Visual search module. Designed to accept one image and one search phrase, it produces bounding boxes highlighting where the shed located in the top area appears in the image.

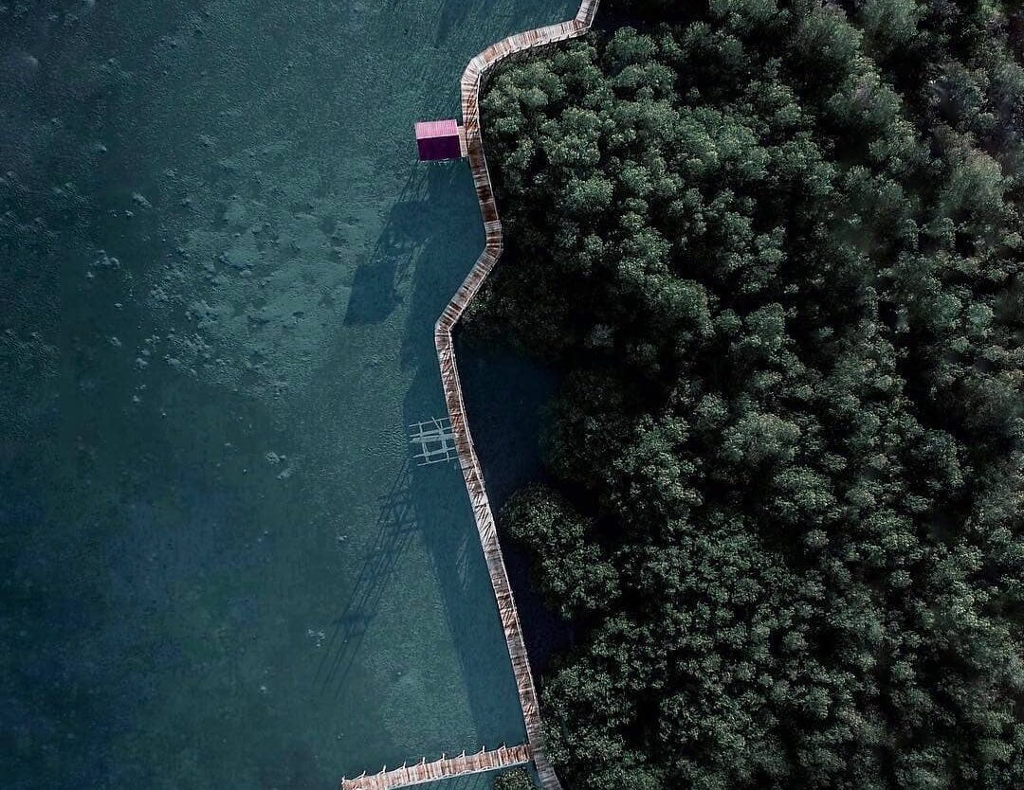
[416,119,469,163]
